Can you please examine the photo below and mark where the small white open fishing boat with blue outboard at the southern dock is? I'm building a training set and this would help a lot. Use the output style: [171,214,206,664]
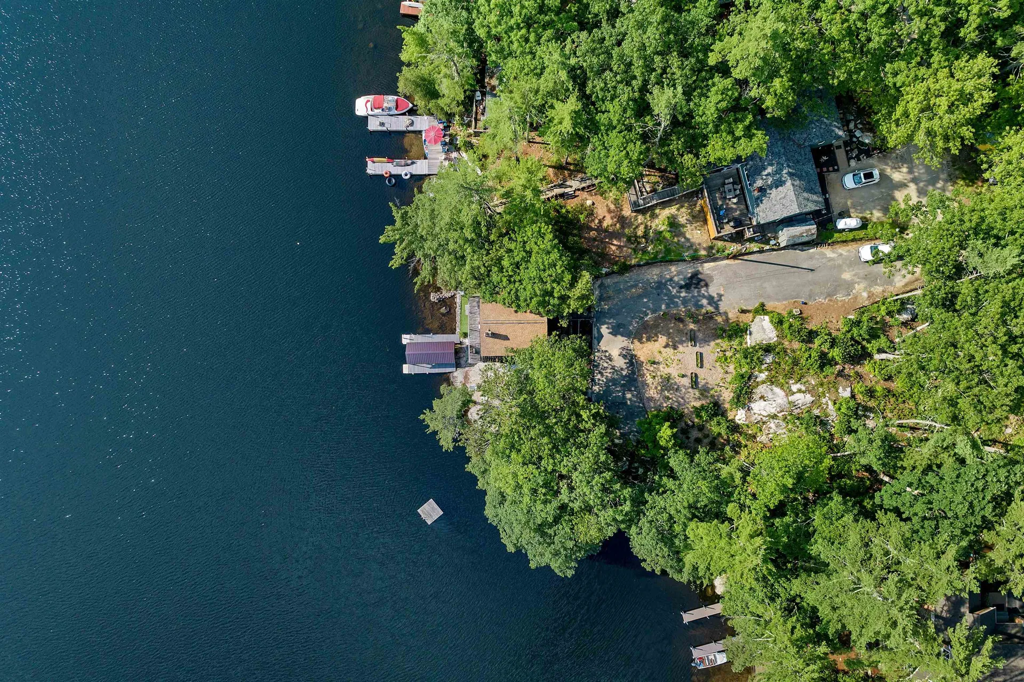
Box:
[692,652,728,670]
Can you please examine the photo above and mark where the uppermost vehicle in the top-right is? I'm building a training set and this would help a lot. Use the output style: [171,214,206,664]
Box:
[843,166,885,190]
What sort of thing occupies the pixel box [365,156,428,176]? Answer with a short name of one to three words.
pier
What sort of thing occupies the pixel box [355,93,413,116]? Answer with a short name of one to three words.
boat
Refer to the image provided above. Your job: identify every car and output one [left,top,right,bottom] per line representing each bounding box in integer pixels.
[861,241,898,260]
[843,166,885,190]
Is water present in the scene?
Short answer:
Yes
